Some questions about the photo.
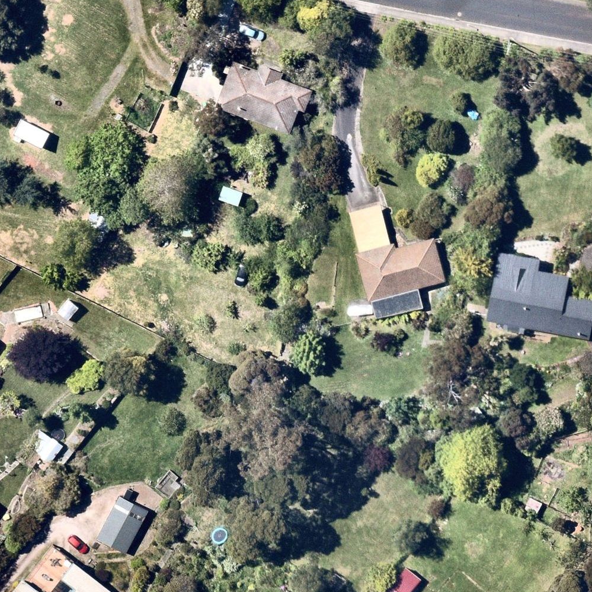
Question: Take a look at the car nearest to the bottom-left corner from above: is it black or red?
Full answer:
The color of the car nearest to the bottom-left corner is red.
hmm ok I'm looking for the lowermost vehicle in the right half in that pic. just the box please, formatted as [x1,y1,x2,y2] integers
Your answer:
[348,304,373,318]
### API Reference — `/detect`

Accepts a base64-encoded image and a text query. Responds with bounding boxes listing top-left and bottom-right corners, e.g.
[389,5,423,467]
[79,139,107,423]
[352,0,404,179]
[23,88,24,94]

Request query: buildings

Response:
[488,252,592,340]
[12,544,113,592]
[355,239,446,319]
[98,493,149,554]
[58,297,79,320]
[393,566,421,592]
[14,118,49,150]
[14,304,42,323]
[525,496,542,513]
[219,188,242,207]
[36,429,63,462]
[219,64,312,134]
